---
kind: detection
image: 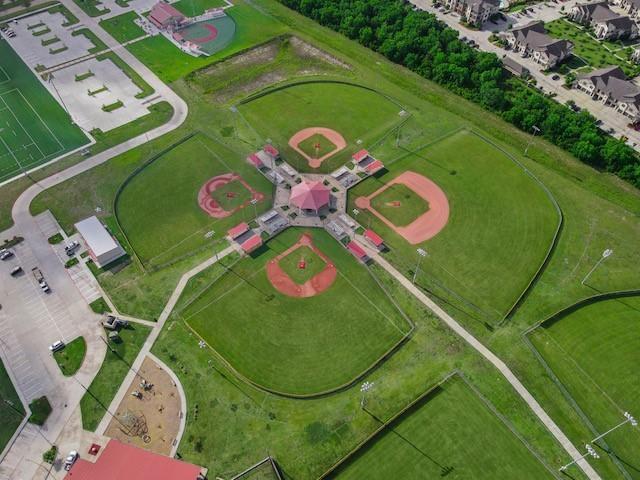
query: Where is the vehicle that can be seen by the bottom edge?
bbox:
[61,450,75,469]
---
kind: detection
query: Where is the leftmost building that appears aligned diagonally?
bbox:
[75,215,127,270]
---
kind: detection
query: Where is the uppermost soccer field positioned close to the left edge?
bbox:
[0,28,95,188]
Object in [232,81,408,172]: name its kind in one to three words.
baseball field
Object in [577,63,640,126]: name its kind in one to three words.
building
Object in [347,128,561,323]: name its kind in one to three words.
baseball field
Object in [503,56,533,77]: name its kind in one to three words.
shed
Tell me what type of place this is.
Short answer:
sports ground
